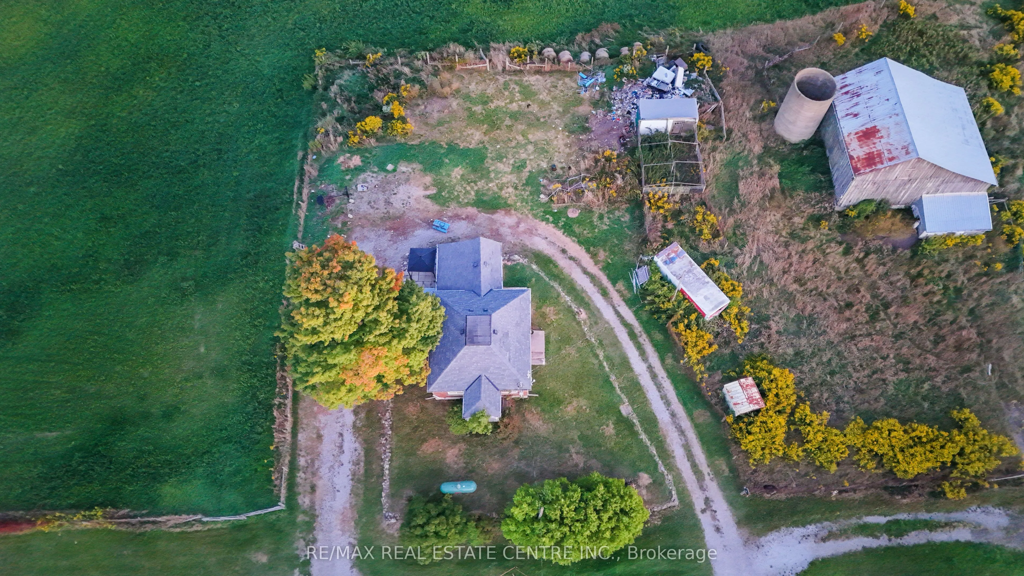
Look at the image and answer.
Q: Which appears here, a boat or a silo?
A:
silo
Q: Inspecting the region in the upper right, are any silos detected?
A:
Yes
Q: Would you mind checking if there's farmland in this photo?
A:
Yes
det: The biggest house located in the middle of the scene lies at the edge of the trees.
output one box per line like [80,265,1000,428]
[424,237,545,422]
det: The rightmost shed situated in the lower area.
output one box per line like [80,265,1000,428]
[722,377,765,416]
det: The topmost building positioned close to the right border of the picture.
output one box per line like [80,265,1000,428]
[820,56,998,208]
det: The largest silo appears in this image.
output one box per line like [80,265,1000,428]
[773,69,837,142]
